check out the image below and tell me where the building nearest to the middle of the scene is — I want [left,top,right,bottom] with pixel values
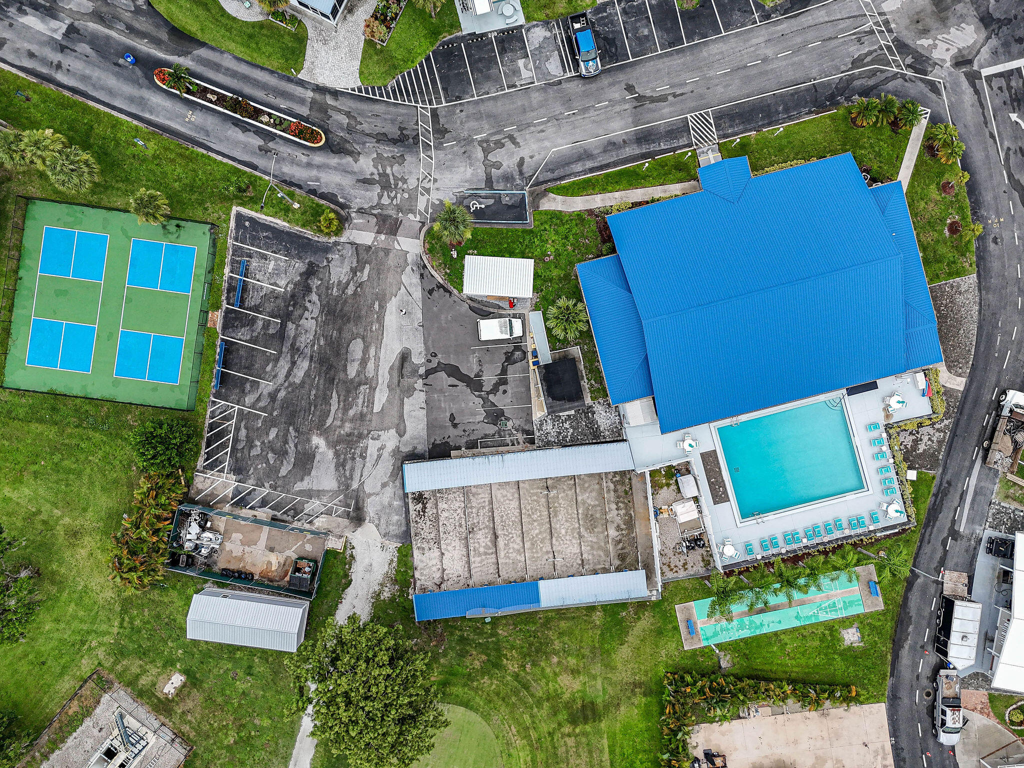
[538,358,586,414]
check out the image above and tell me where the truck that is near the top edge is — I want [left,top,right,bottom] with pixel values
[567,10,601,80]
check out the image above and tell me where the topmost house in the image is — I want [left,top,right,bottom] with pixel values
[292,0,350,35]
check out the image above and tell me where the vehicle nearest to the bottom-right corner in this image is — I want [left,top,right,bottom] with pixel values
[932,667,970,744]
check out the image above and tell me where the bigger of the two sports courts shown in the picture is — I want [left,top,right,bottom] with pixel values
[3,199,210,409]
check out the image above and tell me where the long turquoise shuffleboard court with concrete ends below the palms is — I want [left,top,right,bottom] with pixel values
[675,565,885,650]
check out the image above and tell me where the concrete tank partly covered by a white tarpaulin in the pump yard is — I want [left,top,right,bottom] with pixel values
[669,497,704,542]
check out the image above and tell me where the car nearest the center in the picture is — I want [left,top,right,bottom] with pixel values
[476,317,523,341]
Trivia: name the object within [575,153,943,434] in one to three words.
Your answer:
building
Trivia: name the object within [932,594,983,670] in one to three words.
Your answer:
trailer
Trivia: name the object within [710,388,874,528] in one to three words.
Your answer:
swimming pool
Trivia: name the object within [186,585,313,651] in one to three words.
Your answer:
shed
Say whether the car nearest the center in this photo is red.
No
